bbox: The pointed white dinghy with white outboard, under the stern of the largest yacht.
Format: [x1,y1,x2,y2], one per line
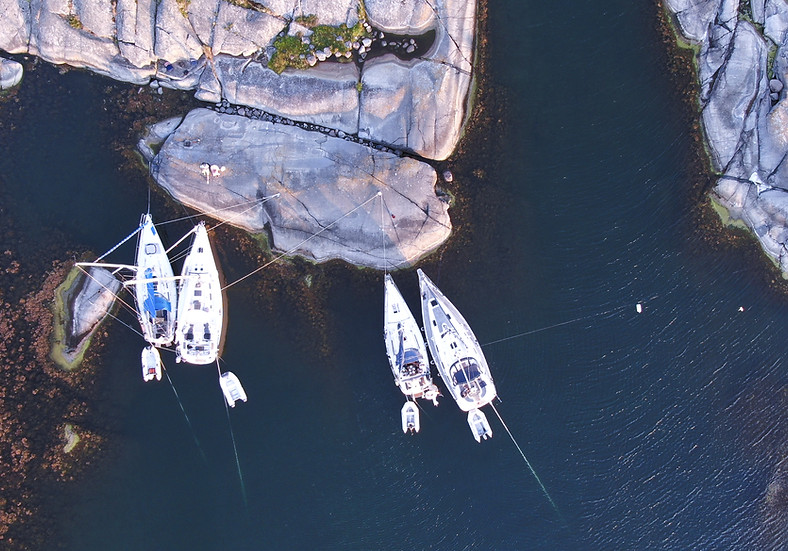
[469,411,492,444]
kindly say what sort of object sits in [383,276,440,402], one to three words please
boat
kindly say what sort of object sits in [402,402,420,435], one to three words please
boat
